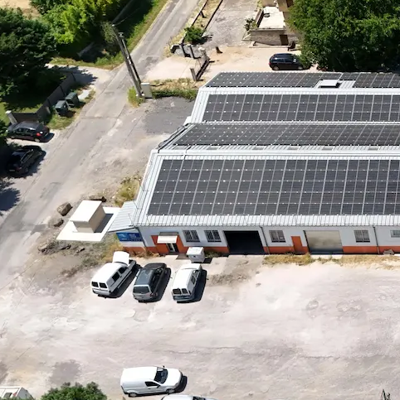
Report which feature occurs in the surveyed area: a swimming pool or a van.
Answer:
van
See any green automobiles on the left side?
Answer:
No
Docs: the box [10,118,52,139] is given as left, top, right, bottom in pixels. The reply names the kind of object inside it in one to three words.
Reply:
car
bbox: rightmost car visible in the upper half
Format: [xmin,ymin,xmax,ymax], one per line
[269,51,309,69]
